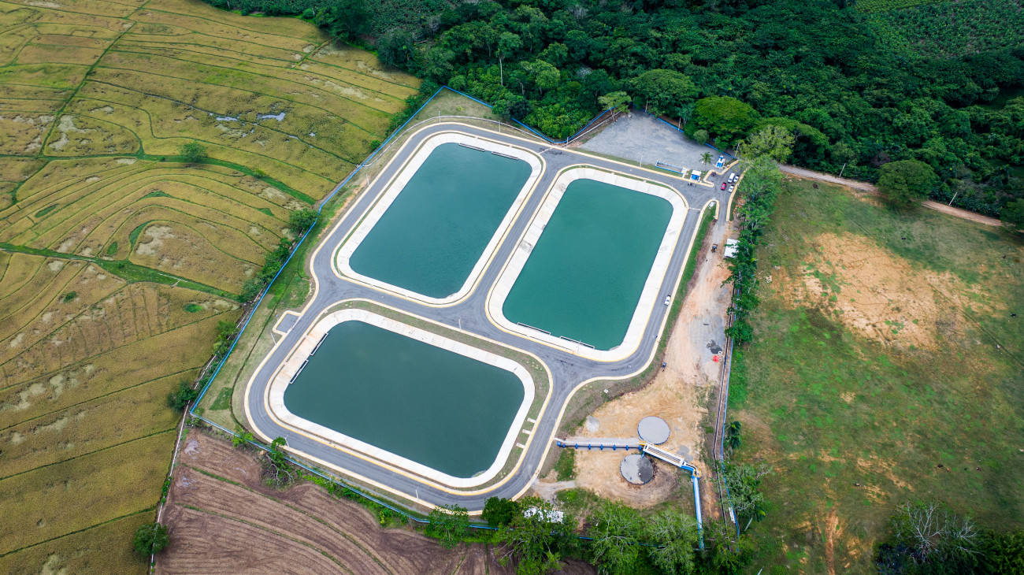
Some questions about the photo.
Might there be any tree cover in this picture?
Yes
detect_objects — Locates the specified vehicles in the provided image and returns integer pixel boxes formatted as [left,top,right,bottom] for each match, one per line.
[720,182,727,191]
[733,174,741,183]
[710,245,717,254]
[664,294,672,306]
[728,184,735,193]
[727,173,734,182]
